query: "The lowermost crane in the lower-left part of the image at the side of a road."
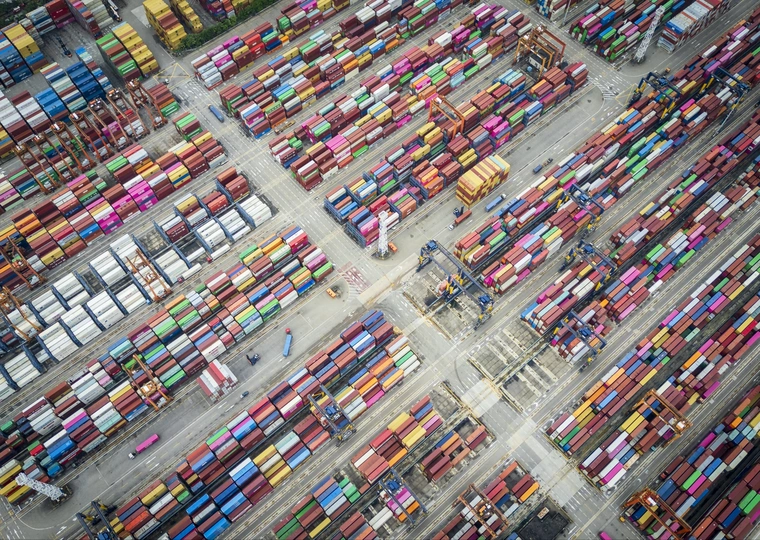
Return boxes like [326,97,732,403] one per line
[75,500,123,540]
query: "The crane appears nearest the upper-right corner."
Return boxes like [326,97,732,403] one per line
[698,66,751,118]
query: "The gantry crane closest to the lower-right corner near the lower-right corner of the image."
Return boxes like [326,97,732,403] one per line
[622,486,692,540]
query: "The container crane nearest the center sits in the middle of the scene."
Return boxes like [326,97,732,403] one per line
[420,240,467,297]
